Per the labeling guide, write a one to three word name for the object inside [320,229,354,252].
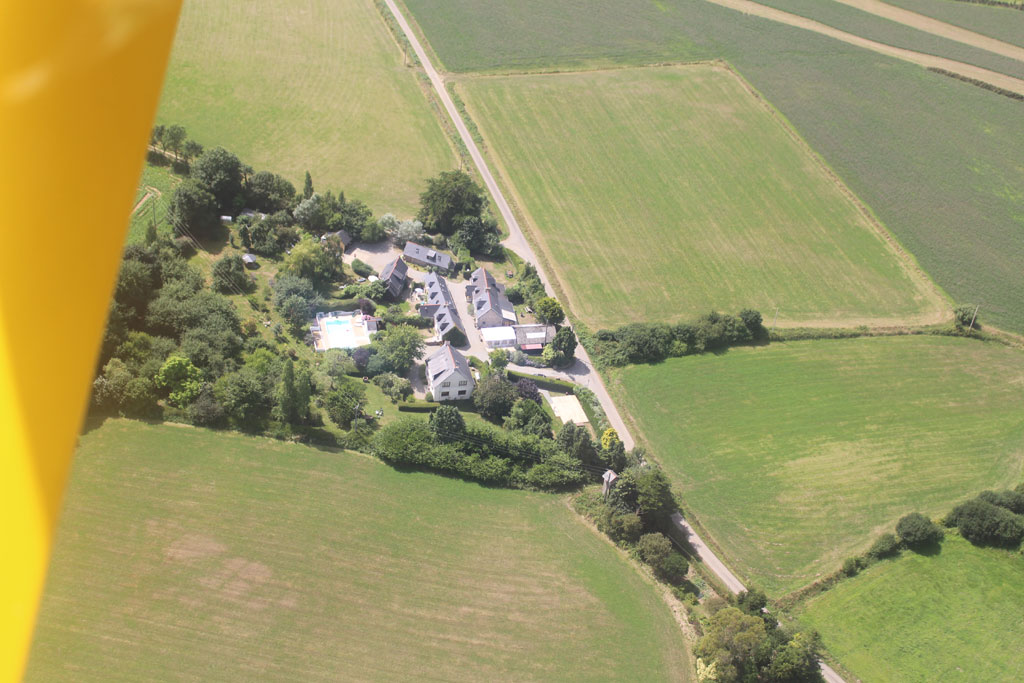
shed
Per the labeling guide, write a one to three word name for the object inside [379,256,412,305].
barn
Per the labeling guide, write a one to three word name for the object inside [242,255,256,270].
gazebo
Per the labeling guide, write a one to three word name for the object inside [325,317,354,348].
swimming pool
